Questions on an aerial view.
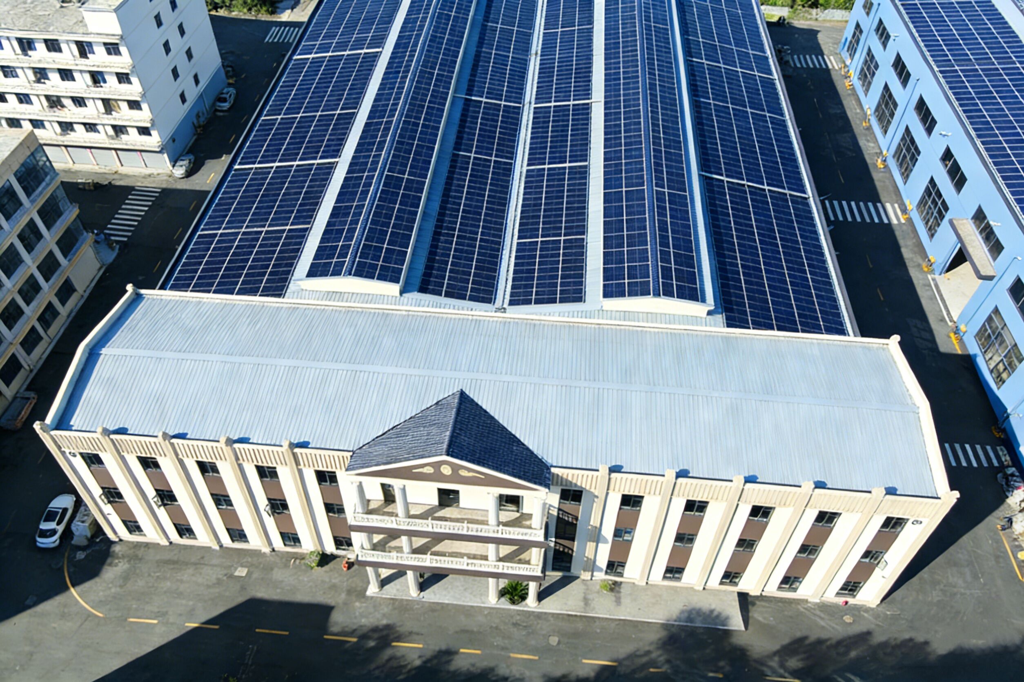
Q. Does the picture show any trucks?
Yes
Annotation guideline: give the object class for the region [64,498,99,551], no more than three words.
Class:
truck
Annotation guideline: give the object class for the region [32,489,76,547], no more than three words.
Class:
car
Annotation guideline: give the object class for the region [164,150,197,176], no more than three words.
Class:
car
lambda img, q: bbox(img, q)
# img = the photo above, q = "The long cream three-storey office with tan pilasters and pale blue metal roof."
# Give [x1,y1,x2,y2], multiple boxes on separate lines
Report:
[38,280,957,607]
